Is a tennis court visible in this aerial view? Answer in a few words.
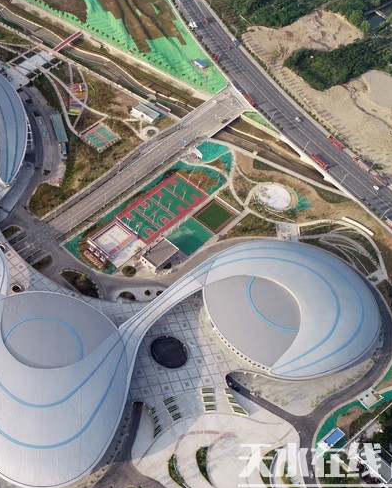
Yes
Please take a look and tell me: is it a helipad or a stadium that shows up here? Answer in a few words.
stadium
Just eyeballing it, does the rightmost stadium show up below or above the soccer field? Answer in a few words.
below it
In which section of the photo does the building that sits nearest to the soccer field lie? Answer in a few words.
center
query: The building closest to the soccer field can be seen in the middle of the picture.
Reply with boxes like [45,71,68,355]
[141,238,180,272]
